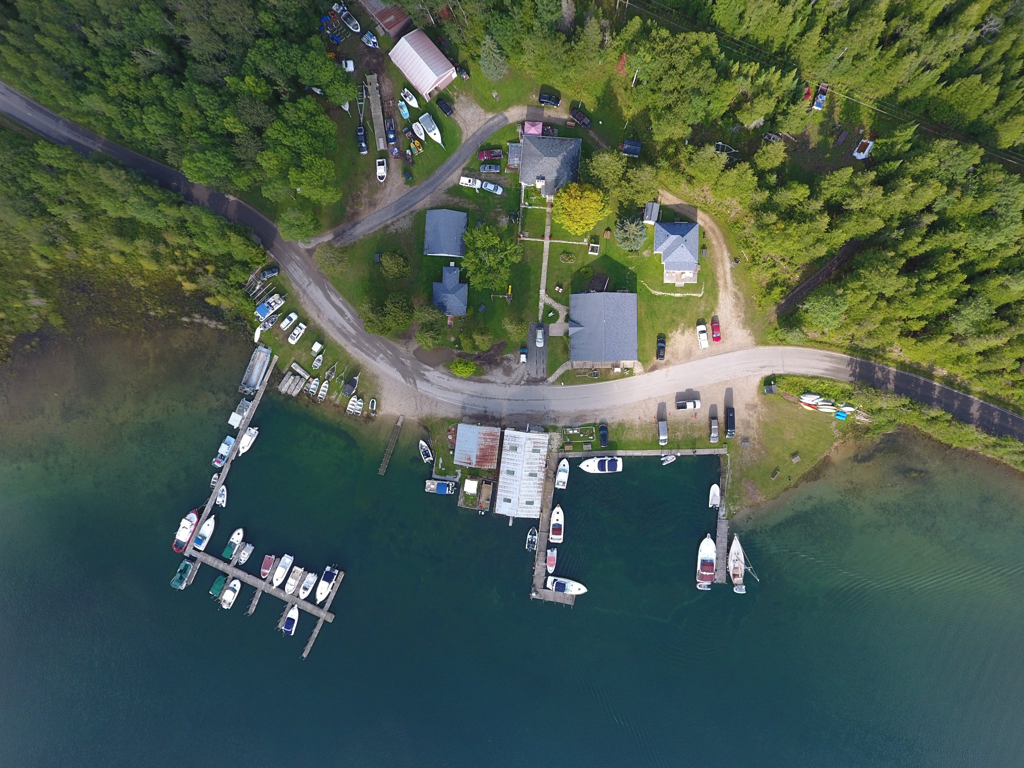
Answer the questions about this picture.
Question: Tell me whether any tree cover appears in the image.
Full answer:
Yes, tree cover shows up in the scene.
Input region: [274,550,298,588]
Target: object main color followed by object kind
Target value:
white boat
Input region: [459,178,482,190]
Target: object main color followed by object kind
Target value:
white vehicle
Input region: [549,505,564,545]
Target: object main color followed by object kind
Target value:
white boat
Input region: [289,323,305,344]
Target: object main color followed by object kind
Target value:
white car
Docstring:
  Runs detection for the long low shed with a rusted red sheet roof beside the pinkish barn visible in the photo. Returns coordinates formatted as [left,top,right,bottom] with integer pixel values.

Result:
[364,0,412,36]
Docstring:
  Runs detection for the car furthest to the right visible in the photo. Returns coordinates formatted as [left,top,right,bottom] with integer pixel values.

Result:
[854,138,872,161]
